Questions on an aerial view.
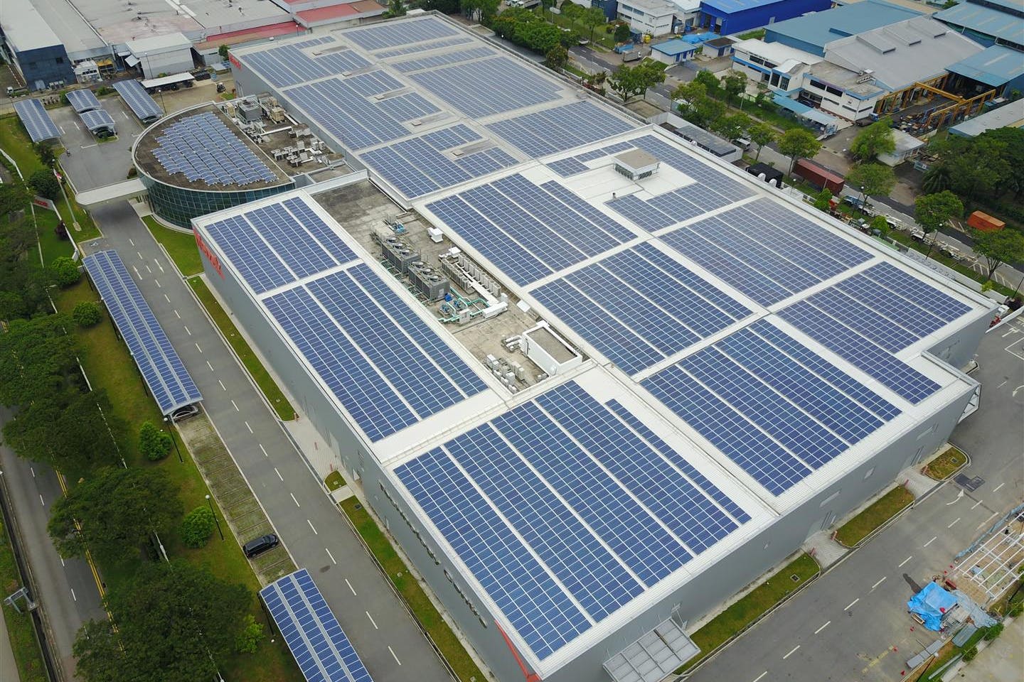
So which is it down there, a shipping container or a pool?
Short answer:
shipping container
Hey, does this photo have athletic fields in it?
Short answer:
No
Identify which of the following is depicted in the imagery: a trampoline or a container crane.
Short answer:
container crane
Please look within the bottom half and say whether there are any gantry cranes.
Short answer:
No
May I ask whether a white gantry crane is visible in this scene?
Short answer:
No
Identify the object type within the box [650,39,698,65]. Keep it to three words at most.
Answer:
building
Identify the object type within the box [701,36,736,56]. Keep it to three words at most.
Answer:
shed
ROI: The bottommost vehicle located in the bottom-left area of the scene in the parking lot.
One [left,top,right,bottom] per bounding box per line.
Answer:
[243,533,280,557]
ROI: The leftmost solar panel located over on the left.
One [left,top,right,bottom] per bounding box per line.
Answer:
[14,100,59,142]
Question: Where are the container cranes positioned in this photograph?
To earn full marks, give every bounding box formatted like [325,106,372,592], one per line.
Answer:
[871,73,996,134]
